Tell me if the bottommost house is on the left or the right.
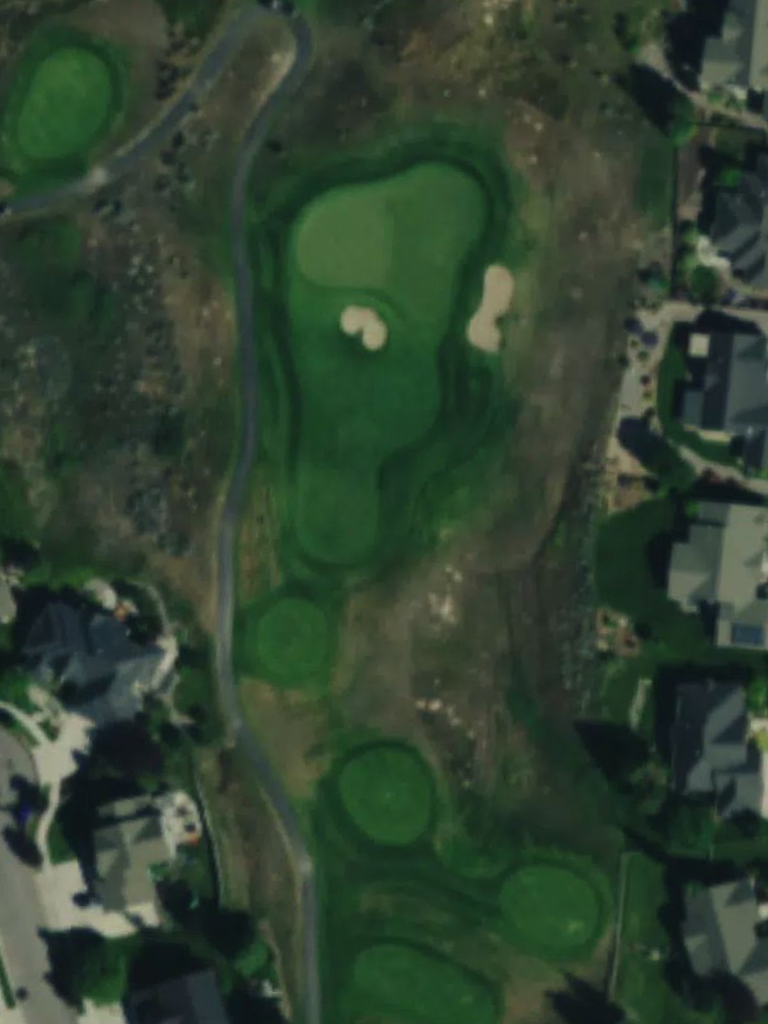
left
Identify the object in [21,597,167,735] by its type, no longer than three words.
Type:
house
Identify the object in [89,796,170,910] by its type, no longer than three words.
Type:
house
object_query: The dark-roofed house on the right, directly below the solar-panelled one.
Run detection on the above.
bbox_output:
[675,681,766,820]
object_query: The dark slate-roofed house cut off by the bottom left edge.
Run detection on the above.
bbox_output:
[127,967,232,1024]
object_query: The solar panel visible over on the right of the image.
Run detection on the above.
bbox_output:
[732,625,767,645]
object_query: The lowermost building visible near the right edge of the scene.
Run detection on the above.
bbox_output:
[679,877,768,1015]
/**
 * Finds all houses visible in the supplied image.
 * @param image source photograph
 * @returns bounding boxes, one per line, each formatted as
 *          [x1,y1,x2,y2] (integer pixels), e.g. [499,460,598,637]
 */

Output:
[21,597,167,735]
[681,327,768,475]
[127,967,232,1024]
[679,877,768,1015]
[666,497,768,649]
[701,0,768,118]
[675,681,766,820]
[89,796,170,910]
[0,560,18,624]
[717,142,768,287]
